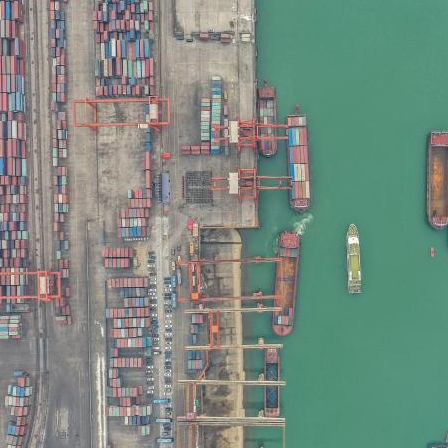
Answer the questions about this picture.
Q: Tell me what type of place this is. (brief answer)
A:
port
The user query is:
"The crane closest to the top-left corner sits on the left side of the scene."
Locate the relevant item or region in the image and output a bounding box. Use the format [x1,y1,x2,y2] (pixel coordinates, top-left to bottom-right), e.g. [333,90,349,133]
[74,98,170,136]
